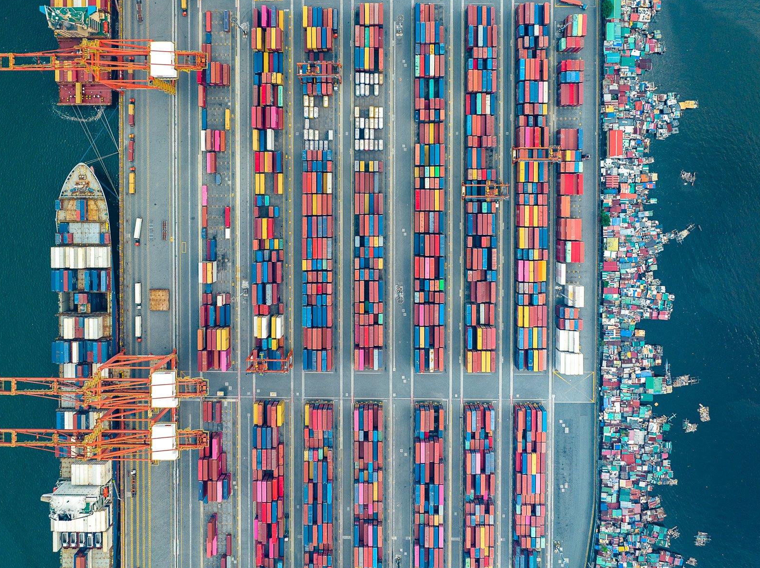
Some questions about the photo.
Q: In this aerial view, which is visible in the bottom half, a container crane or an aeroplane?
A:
container crane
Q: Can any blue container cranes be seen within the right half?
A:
No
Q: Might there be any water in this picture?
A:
Yes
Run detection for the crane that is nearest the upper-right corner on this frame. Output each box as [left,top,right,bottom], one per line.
[510,143,563,166]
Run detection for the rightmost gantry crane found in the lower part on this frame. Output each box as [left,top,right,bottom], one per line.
[247,348,293,375]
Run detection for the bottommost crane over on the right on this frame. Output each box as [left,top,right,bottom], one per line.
[461,180,509,202]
